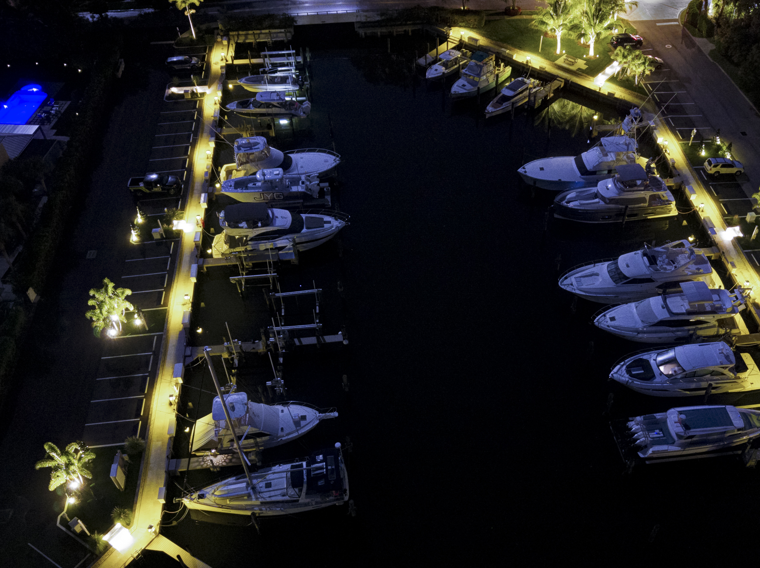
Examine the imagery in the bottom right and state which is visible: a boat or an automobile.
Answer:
boat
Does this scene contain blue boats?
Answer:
Yes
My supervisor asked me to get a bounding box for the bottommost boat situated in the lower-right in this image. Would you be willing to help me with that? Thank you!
[629,404,760,452]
